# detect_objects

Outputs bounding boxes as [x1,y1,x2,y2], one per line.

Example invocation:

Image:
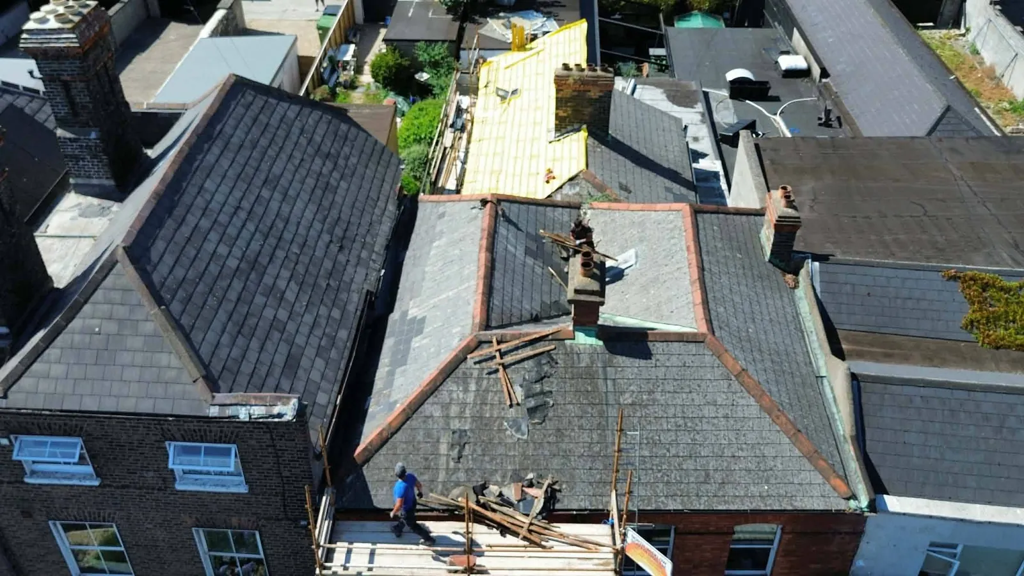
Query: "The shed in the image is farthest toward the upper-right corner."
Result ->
[921,0,963,29]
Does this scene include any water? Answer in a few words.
No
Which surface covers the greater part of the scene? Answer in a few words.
buildings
